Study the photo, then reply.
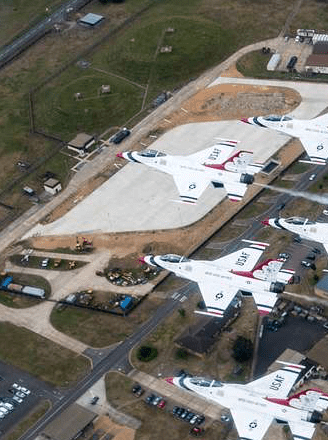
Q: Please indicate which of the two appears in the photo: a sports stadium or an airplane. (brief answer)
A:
airplane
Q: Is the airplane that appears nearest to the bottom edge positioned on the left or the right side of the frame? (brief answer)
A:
right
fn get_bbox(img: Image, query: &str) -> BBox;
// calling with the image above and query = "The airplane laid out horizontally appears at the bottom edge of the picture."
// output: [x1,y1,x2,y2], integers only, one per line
[155,361,328,440]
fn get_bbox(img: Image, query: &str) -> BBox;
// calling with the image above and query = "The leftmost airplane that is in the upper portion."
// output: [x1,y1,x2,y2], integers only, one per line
[106,138,262,204]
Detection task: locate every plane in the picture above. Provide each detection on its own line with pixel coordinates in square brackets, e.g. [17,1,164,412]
[106,138,262,204]
[155,361,328,440]
[235,112,328,164]
[131,241,295,317]
[252,220,328,256]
